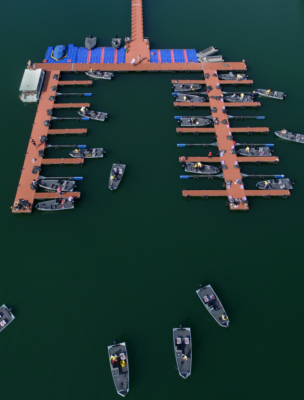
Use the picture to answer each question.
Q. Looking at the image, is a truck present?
No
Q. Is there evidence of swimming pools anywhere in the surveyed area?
No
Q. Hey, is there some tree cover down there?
No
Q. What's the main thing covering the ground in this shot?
water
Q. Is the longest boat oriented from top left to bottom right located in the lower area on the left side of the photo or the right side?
right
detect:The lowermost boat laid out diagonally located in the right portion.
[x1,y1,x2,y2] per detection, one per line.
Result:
[196,283,230,326]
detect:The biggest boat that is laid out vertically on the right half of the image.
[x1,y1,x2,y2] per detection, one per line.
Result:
[173,323,193,378]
